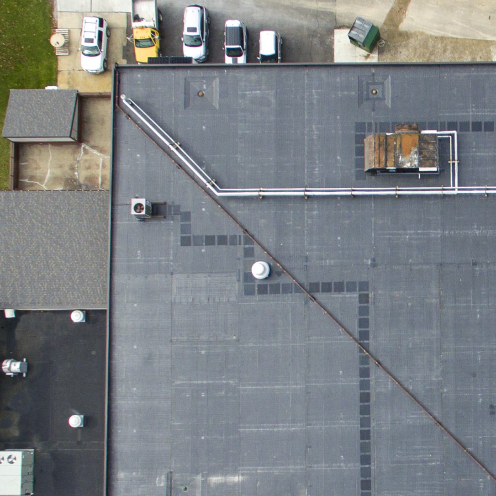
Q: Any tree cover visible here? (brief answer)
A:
No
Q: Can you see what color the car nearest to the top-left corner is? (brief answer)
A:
white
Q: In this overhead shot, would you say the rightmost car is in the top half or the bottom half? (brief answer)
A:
top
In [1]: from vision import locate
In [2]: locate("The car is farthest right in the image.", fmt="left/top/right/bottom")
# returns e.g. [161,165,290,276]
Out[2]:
[258,30,286,63]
